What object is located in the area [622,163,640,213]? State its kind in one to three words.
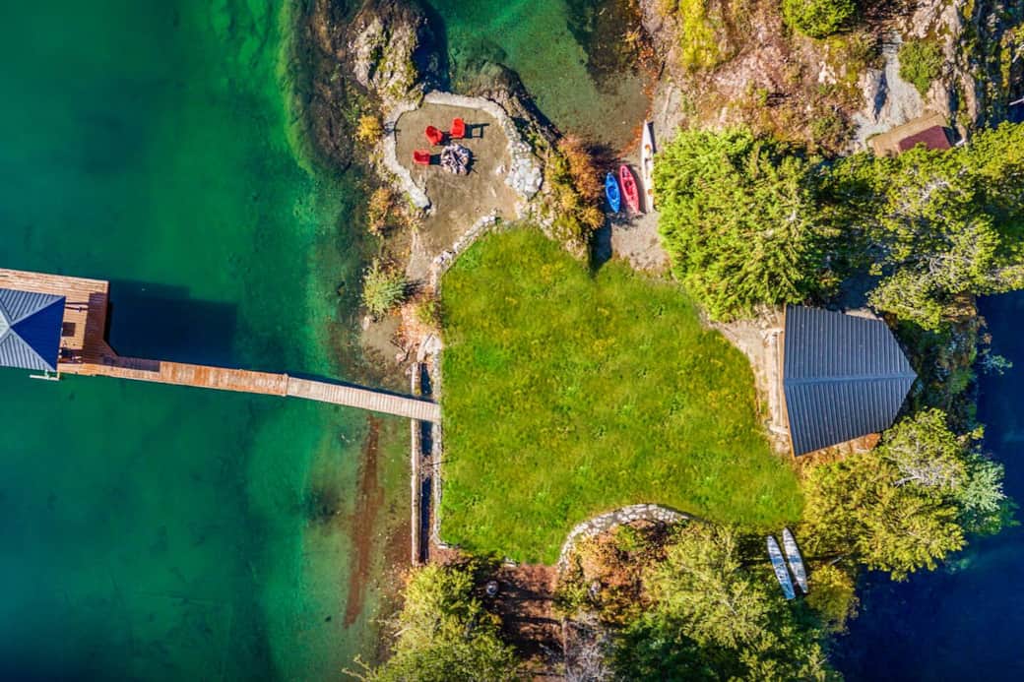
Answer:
boat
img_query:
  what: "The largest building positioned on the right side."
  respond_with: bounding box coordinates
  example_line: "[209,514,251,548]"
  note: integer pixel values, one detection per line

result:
[778,305,918,457]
